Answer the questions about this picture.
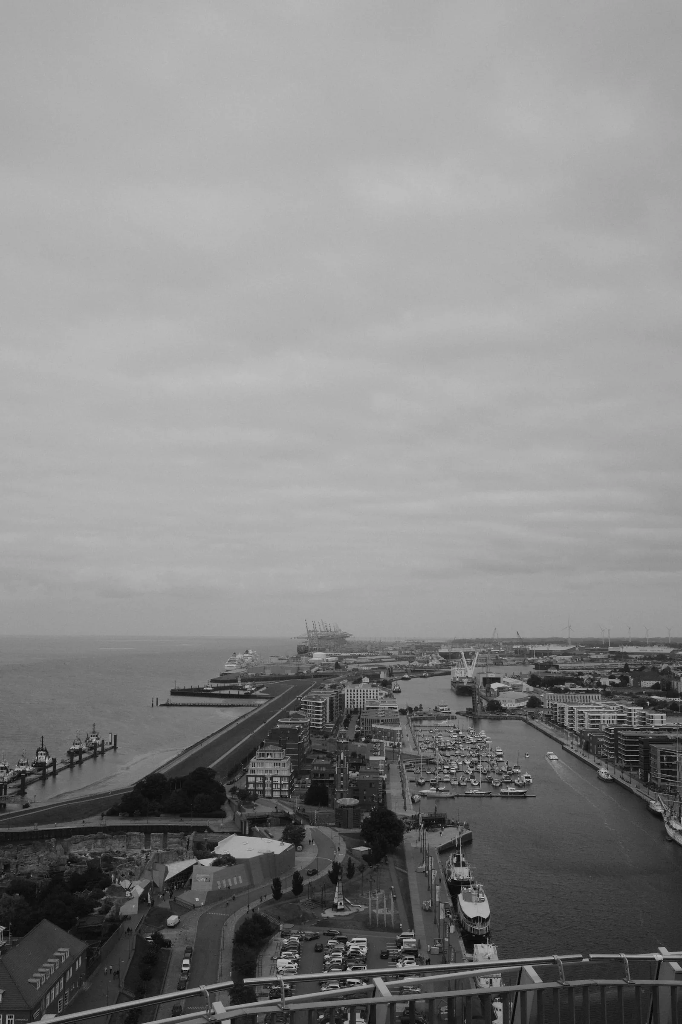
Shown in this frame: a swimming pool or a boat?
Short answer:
boat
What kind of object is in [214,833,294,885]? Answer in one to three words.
building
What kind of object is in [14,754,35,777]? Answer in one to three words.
boat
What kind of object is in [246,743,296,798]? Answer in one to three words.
house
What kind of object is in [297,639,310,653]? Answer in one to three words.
ship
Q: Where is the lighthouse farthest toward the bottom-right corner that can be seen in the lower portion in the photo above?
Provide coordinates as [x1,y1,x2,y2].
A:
[335,872,363,915]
